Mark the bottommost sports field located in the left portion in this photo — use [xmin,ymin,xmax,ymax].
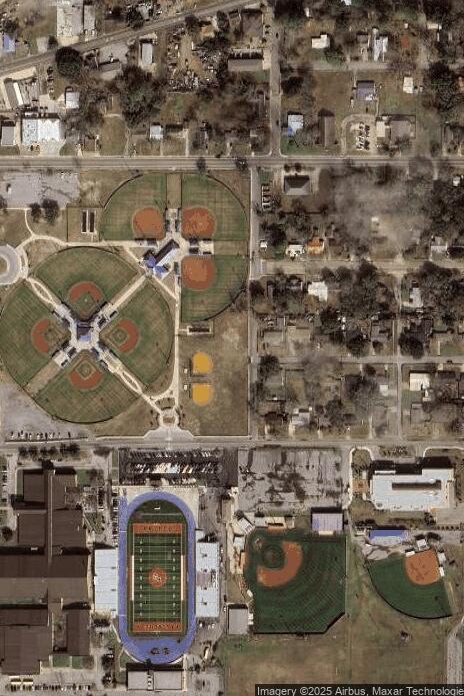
[126,500,188,635]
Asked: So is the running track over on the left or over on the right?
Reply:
left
